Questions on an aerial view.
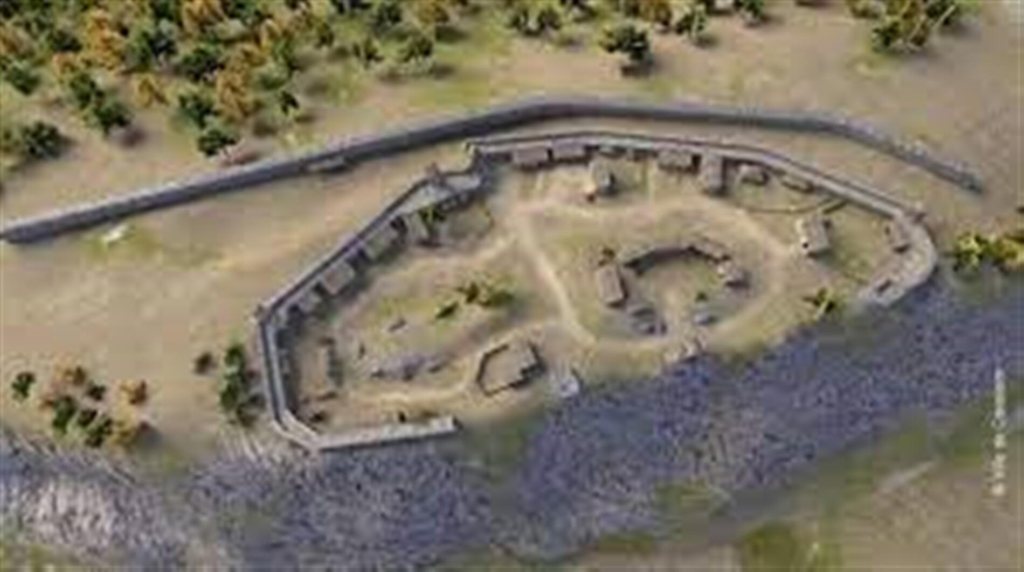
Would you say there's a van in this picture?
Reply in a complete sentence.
No, the picture doesn't show any van.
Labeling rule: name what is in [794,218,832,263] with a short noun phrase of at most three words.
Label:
house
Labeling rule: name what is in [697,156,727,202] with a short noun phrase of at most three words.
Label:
house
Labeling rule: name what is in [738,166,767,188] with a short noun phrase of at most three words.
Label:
shed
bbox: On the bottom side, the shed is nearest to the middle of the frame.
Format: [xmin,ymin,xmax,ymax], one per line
[509,342,542,371]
